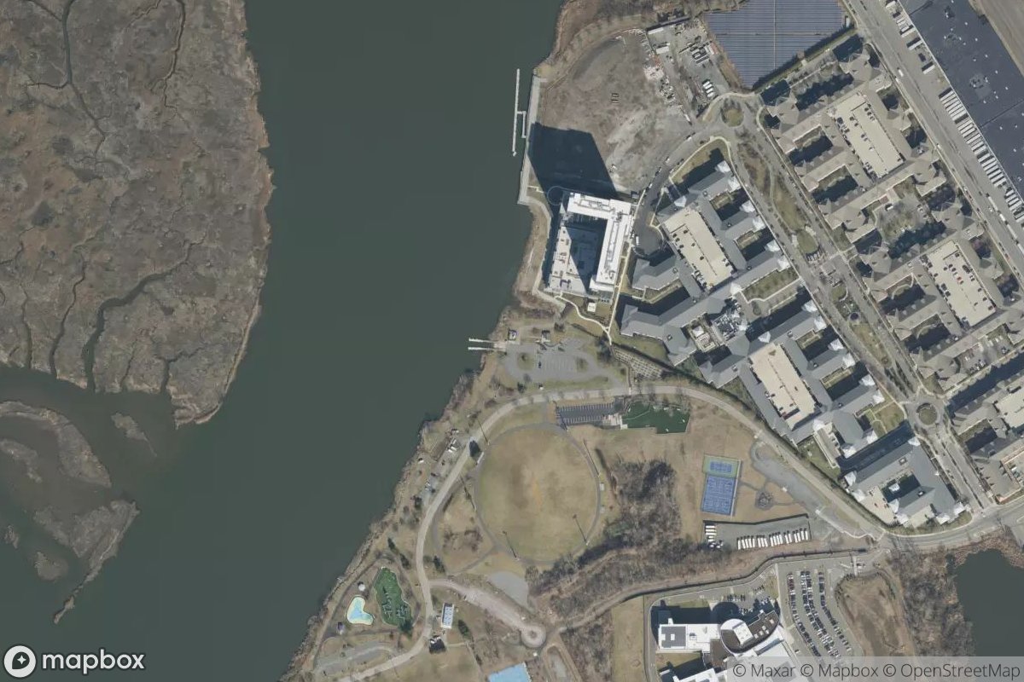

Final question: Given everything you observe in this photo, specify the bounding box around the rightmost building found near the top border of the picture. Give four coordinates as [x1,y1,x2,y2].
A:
[898,0,1024,207]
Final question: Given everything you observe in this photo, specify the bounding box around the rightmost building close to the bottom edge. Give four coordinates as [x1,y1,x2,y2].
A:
[655,611,803,682]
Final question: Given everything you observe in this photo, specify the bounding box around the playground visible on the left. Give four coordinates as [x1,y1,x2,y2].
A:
[375,569,412,626]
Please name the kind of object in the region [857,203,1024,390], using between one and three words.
building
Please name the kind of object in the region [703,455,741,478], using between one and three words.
sports court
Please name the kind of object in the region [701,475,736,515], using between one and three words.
tennis court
